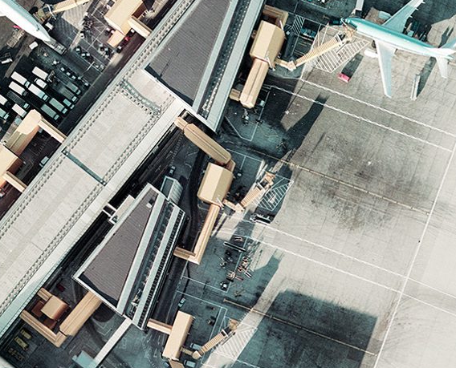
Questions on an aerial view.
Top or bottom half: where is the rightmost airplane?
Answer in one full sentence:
The rightmost airplane sits in the top half of the picture.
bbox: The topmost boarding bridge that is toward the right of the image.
[280,27,351,73]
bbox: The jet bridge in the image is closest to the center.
[223,168,275,212]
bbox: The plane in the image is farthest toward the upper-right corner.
[342,0,455,95]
